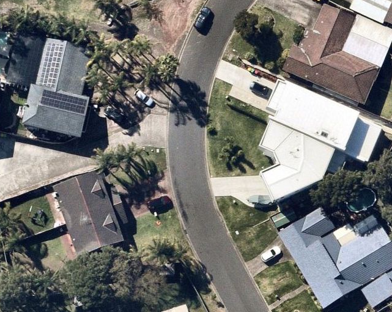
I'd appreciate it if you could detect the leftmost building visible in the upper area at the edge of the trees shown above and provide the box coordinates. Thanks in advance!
[18,34,92,138]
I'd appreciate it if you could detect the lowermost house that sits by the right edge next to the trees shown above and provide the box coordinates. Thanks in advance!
[273,206,392,312]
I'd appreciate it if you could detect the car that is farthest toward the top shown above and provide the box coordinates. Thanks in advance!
[195,7,211,31]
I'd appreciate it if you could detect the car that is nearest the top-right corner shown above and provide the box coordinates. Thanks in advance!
[249,83,271,96]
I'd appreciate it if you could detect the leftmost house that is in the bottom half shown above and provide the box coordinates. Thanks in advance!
[53,171,128,251]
